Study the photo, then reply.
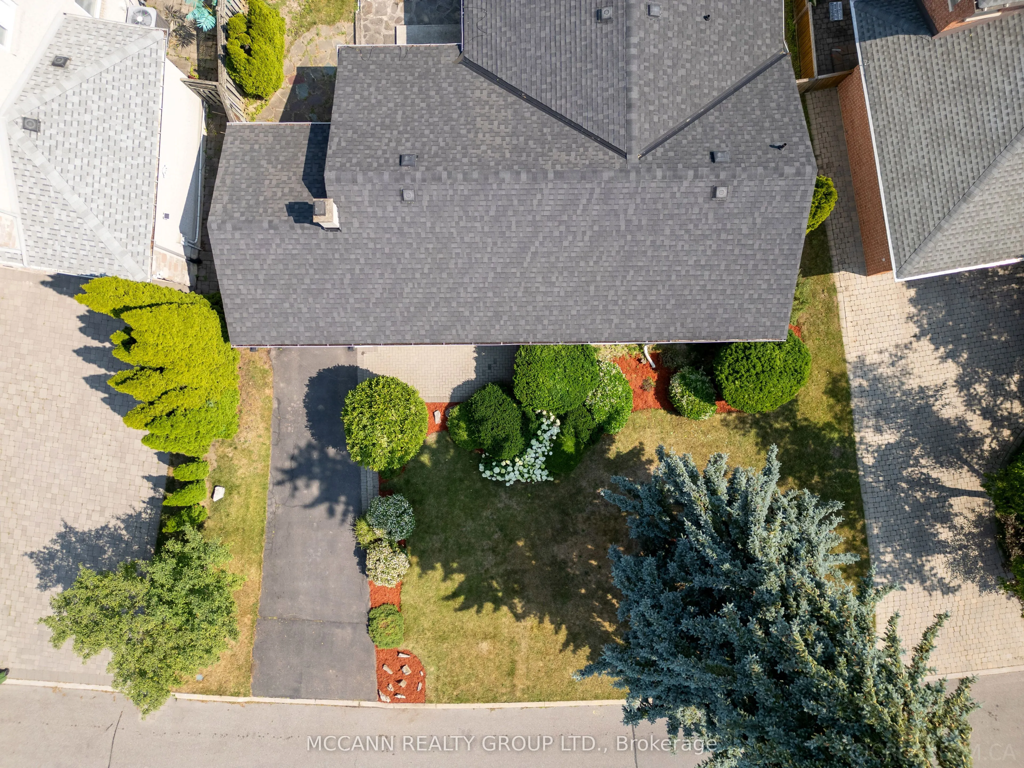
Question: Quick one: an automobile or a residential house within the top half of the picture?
residential house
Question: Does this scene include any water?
No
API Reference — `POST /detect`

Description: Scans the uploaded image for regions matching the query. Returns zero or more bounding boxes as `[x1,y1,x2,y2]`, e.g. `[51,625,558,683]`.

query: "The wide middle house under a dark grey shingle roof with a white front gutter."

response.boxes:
[204,0,819,370]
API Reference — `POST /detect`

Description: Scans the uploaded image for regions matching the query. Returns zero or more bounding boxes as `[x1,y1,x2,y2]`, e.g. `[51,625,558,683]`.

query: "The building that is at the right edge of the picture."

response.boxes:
[836,0,1024,283]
